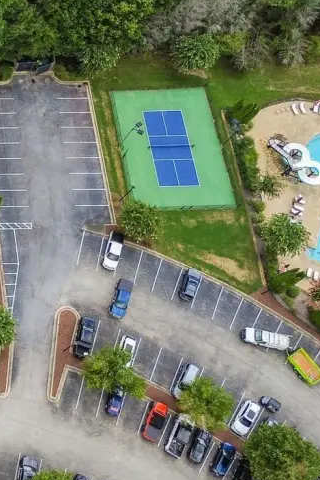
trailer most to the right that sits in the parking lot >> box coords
[286,348,320,386]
